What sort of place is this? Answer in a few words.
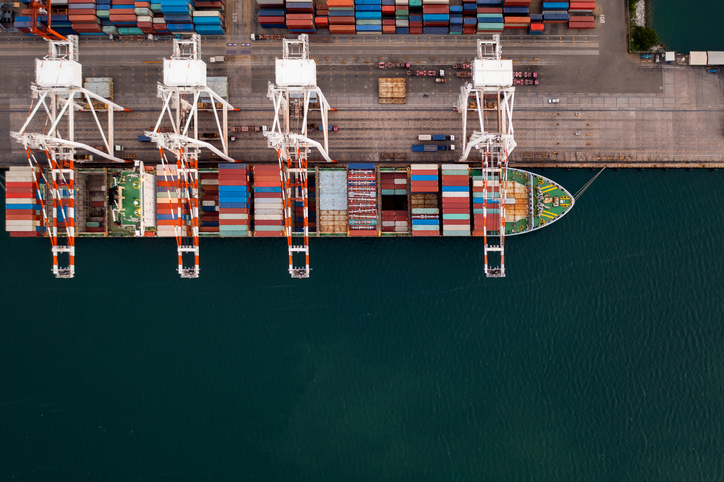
port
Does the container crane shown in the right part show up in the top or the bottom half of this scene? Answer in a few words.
top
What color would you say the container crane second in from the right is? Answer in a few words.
white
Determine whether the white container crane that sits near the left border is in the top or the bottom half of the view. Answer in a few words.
top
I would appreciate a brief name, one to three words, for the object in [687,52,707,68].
shed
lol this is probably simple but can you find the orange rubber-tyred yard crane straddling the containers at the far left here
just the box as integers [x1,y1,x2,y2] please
[30,0,66,36]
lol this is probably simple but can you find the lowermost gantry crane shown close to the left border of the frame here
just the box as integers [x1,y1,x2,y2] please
[6,33,134,281]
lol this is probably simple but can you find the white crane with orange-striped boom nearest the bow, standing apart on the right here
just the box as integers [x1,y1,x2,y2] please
[448,33,519,281]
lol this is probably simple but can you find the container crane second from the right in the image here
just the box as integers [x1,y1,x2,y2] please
[262,33,341,281]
